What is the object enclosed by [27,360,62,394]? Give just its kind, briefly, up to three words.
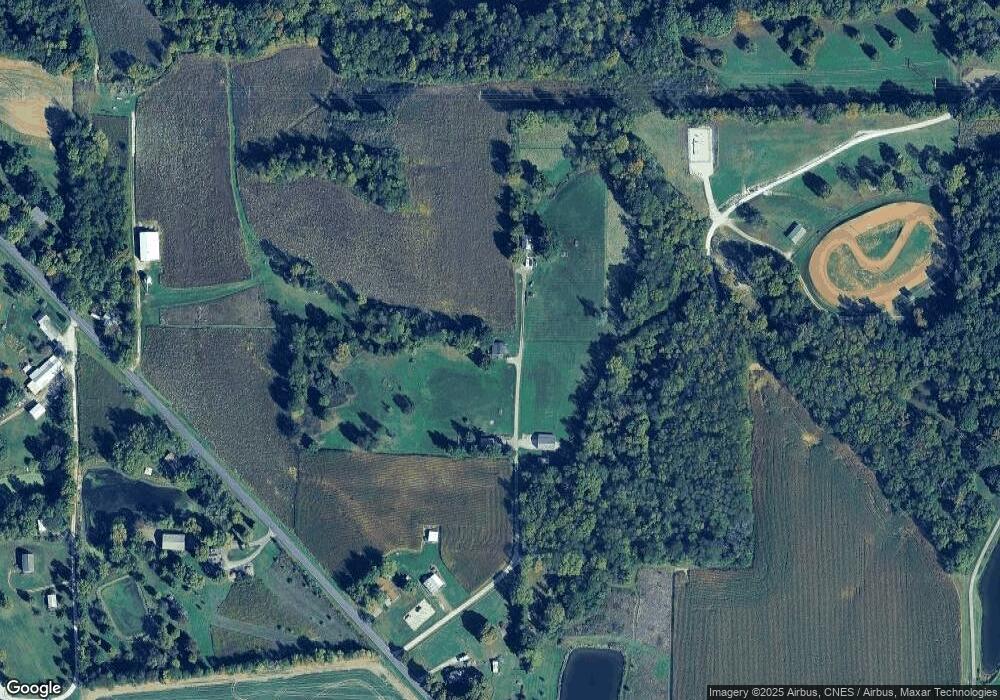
barn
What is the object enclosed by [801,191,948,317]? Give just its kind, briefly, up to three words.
race track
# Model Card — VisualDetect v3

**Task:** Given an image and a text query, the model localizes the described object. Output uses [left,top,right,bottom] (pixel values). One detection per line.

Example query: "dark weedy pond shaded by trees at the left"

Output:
[82,469,196,531]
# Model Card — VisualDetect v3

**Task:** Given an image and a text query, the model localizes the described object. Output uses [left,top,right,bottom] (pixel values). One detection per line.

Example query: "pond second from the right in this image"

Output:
[559,648,624,700]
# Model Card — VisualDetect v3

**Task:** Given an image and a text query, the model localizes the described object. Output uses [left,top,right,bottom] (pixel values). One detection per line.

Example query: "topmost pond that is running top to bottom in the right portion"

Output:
[979,542,1000,672]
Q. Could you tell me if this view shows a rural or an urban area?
rural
